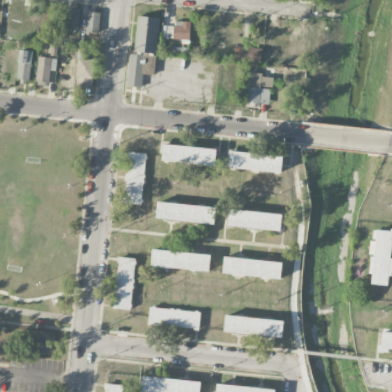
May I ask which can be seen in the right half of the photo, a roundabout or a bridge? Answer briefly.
bridge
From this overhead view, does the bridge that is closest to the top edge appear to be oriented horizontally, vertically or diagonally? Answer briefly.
horizontally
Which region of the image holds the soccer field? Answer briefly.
left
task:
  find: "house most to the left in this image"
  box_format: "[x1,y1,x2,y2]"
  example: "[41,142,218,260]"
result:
[17,50,32,84]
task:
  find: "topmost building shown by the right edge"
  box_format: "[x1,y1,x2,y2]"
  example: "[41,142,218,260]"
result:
[368,230,392,286]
